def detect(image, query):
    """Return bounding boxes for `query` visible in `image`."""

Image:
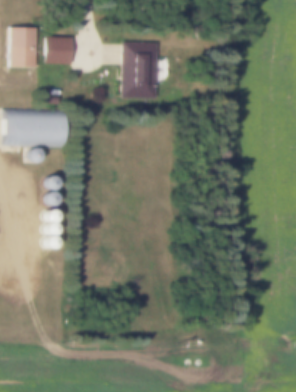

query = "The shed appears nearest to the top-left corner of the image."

[4,26,37,70]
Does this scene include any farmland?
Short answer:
Yes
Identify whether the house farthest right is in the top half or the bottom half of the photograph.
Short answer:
top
